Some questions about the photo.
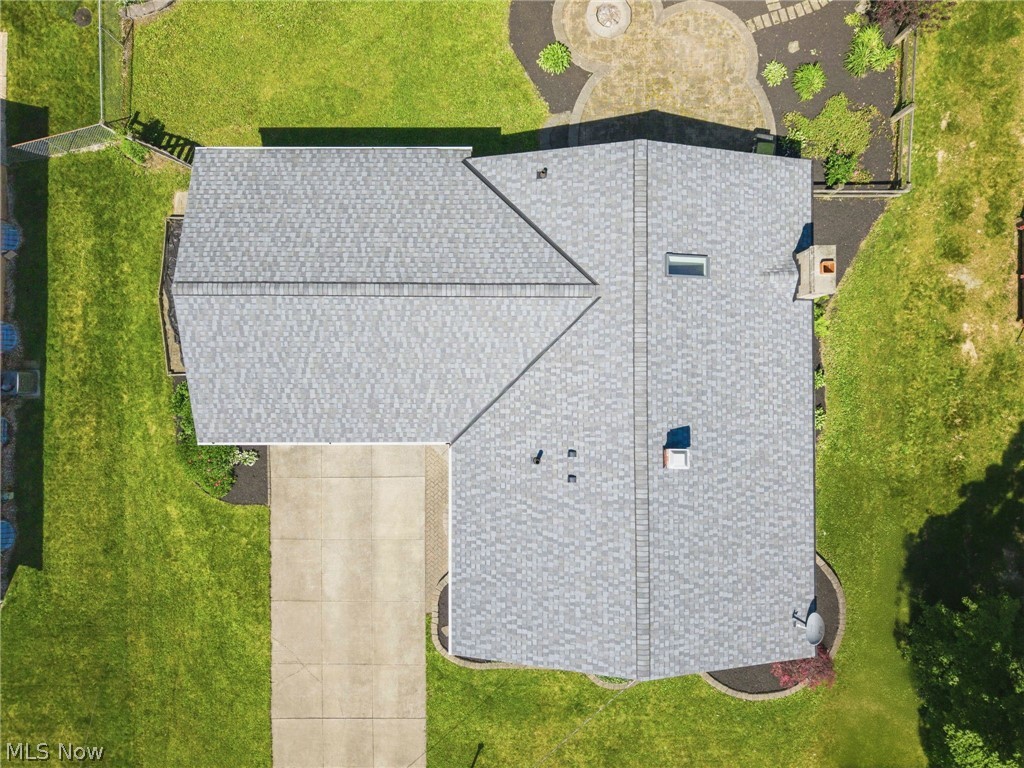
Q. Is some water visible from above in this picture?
No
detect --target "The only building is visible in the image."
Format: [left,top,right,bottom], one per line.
[171,140,835,680]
